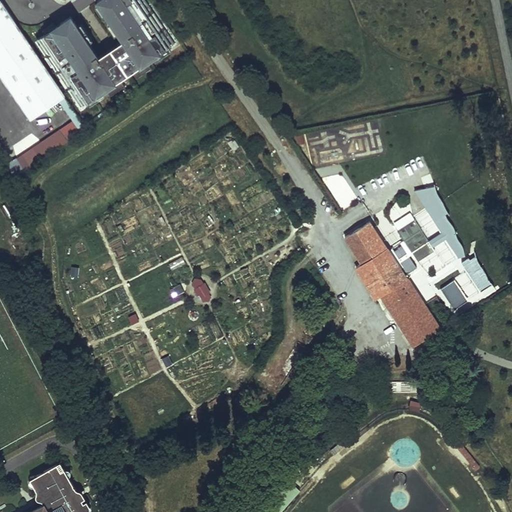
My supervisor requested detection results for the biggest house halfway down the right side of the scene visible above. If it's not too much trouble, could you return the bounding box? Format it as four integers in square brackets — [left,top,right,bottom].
[345,222,438,348]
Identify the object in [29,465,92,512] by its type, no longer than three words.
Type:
house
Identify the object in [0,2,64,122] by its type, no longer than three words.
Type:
building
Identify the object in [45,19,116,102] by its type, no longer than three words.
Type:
building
